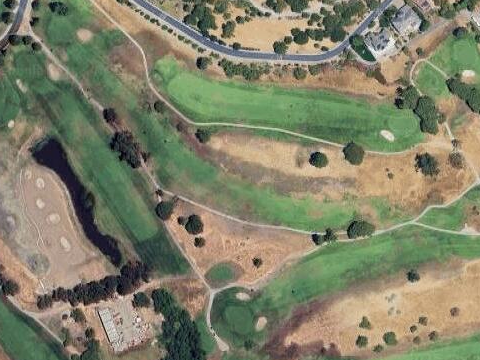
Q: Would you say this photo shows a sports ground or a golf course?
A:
golf course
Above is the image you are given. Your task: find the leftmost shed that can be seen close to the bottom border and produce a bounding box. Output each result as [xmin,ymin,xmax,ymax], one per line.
[99,307,120,344]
